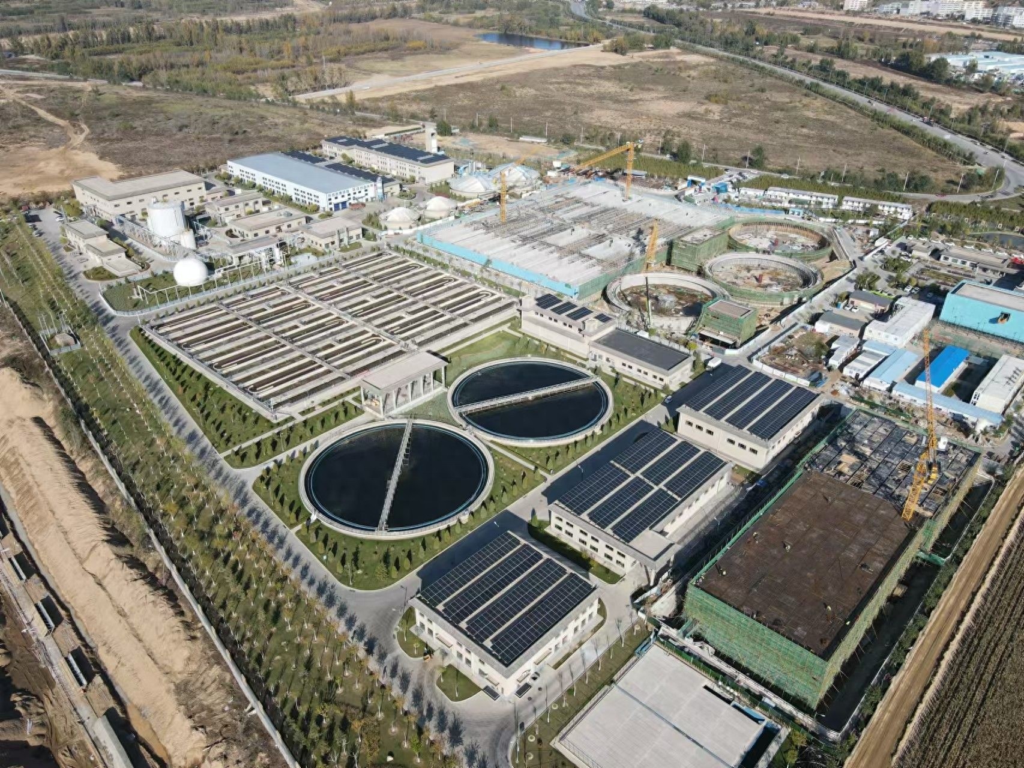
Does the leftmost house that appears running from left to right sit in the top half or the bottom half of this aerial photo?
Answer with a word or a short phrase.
top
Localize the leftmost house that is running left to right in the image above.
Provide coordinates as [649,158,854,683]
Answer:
[70,171,210,220]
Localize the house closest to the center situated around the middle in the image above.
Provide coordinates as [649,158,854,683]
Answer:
[517,293,618,357]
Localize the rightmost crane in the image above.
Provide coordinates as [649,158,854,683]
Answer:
[900,319,944,528]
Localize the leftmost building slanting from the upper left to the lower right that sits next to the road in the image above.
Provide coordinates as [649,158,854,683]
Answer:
[62,220,143,281]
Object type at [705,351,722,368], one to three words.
vehicle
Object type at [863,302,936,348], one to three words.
building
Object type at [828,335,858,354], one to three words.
building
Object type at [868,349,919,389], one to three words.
shed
